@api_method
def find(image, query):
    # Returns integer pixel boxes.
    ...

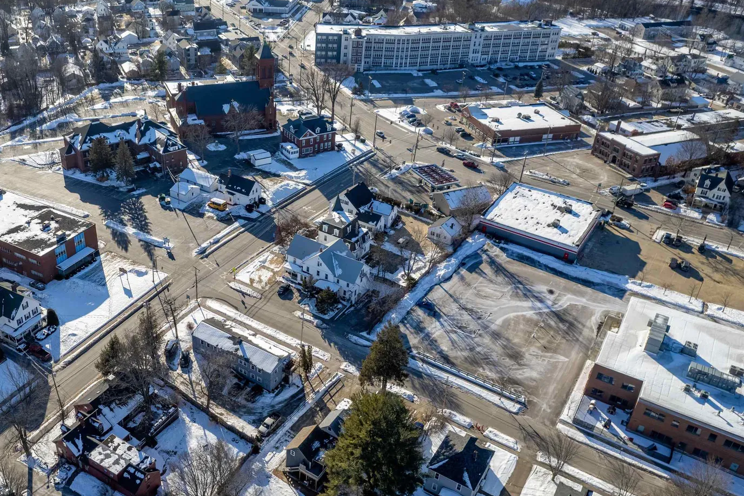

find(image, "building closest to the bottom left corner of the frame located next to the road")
[52,375,163,496]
